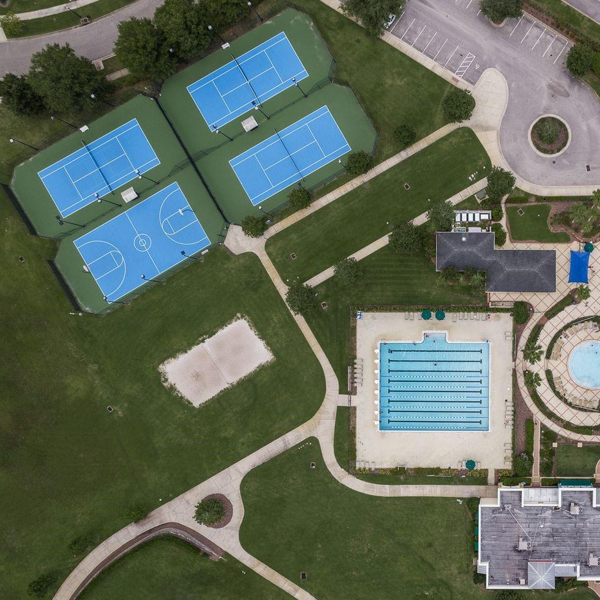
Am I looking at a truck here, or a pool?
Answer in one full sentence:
This aerial view contains a pool.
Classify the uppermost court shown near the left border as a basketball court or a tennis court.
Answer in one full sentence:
What you see as the uppermost court shown near the left border is a tennis court.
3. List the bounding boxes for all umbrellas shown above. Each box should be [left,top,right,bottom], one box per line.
[465,460,476,470]
[422,310,432,320]
[583,243,593,252]
[435,311,445,320]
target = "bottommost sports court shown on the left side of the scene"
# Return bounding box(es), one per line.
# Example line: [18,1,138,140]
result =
[162,316,272,405]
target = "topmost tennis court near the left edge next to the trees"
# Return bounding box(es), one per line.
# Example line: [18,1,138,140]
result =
[10,95,187,239]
